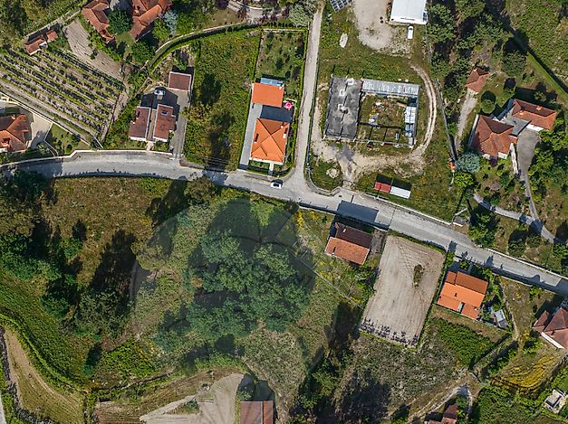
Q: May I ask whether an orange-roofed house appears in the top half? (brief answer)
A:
Yes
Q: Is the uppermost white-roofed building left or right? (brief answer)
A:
right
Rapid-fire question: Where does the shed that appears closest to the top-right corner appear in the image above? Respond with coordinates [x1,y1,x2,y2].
[465,68,489,93]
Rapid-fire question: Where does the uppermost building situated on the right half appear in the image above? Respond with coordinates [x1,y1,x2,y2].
[390,0,428,28]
